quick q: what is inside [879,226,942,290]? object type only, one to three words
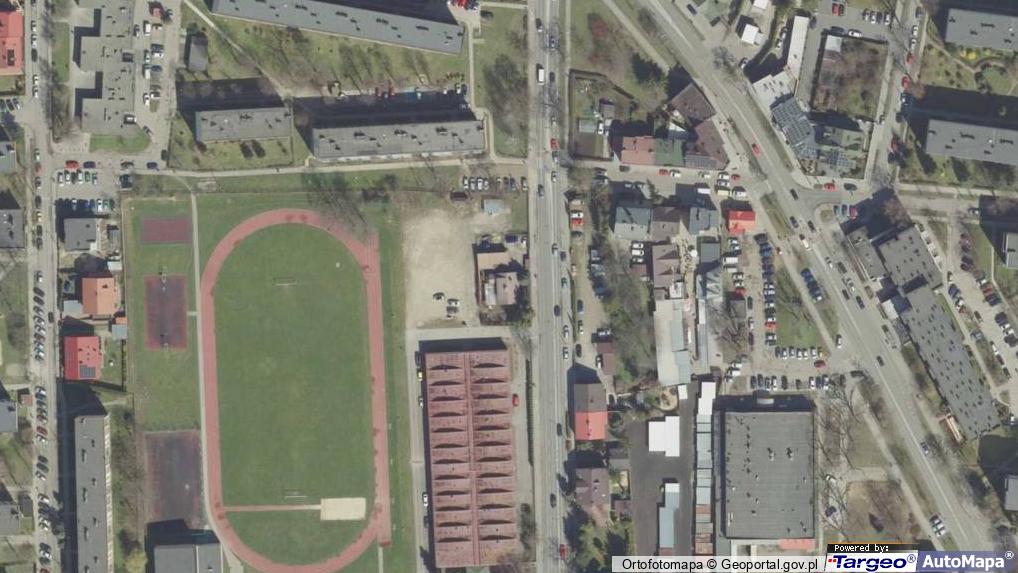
building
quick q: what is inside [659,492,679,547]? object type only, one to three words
shed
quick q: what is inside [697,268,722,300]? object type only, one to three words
house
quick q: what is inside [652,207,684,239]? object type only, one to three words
house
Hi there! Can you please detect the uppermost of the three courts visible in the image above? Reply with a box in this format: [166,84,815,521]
[139,217,191,245]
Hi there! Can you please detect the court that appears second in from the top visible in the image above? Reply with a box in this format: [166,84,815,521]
[144,275,187,349]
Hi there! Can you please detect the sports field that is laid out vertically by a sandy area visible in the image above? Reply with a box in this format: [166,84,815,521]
[213,223,375,564]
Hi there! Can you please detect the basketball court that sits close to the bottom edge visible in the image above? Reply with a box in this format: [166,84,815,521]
[143,430,204,545]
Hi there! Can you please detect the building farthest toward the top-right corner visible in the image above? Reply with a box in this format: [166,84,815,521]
[944,9,1018,55]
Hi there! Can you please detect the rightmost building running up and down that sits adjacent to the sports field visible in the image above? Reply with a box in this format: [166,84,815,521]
[425,350,519,567]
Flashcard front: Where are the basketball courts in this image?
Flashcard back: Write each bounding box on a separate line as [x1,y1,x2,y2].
[143,430,204,545]
[144,275,187,349]
[139,217,191,245]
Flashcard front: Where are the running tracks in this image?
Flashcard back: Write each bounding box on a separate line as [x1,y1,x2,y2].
[200,210,391,573]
